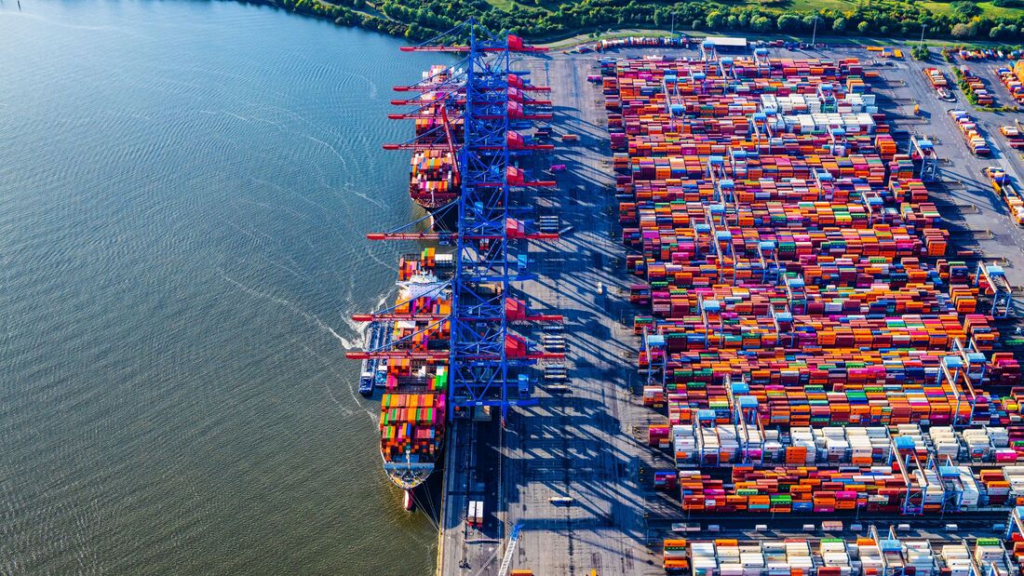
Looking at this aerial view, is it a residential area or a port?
port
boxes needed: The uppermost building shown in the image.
[702,36,754,54]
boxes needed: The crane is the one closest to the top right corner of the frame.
[913,133,946,186]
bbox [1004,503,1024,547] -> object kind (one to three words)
container crane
